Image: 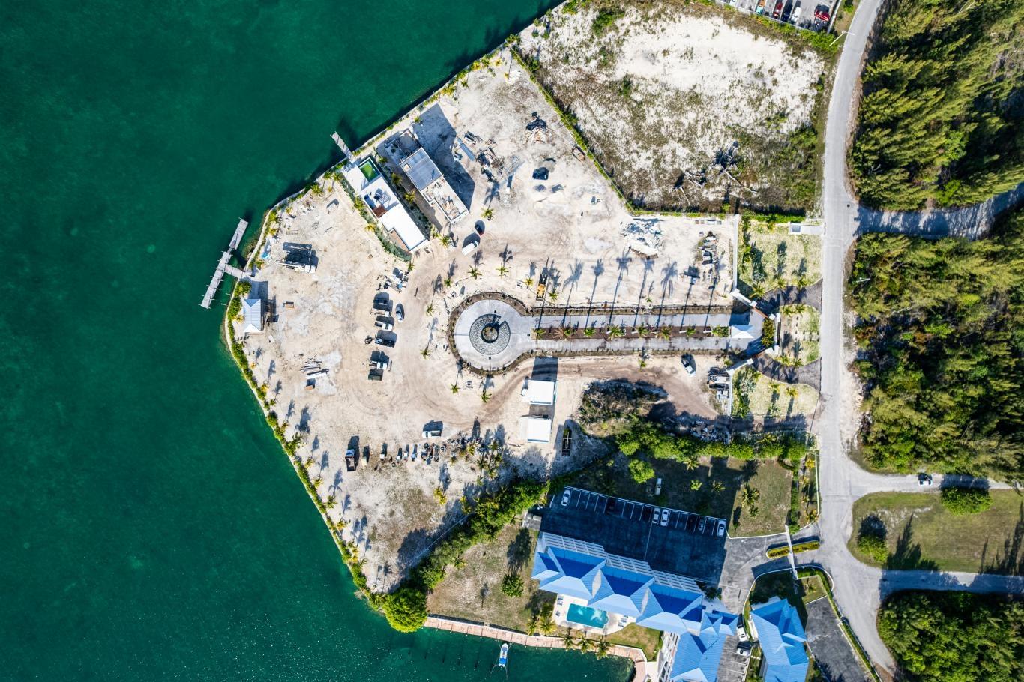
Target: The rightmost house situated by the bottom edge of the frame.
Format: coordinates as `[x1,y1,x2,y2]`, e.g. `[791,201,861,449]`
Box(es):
[746,593,809,682]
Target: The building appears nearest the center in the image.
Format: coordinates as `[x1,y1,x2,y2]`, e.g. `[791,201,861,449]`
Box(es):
[523,380,555,405]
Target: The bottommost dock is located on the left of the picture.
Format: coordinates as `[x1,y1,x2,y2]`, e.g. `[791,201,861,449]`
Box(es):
[198,218,251,309]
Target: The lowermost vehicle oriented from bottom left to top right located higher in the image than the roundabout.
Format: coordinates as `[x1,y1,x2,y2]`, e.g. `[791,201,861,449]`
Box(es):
[460,238,480,255]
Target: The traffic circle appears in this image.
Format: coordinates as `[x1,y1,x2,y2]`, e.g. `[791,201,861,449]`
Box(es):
[469,313,510,355]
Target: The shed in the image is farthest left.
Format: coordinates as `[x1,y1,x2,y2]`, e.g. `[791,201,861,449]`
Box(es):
[243,298,265,332]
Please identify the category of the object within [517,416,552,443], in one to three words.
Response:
building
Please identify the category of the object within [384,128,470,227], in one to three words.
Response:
house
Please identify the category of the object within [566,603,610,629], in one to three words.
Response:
swimming pool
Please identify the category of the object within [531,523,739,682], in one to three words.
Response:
building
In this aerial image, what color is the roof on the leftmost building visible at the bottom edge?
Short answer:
blue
